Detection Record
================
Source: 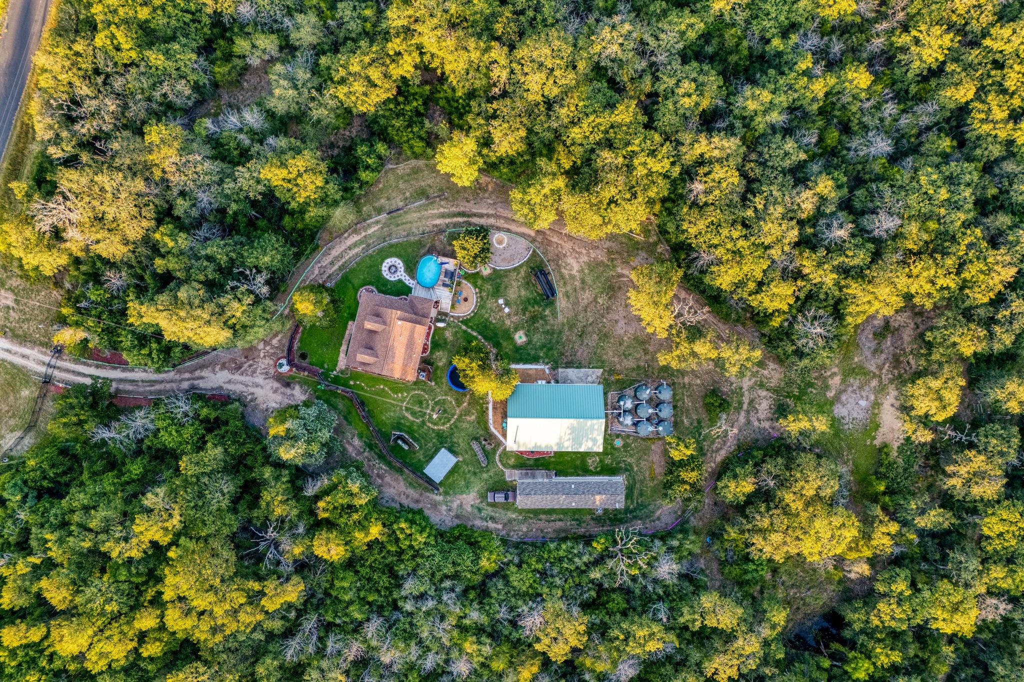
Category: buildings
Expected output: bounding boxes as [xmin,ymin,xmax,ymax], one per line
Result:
[518,480,627,509]
[345,292,433,381]
[424,447,458,482]
[506,383,605,452]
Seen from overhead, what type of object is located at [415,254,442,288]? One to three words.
swimming pool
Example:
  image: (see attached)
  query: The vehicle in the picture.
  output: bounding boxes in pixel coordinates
[488,491,516,503]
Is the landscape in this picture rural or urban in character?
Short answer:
rural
